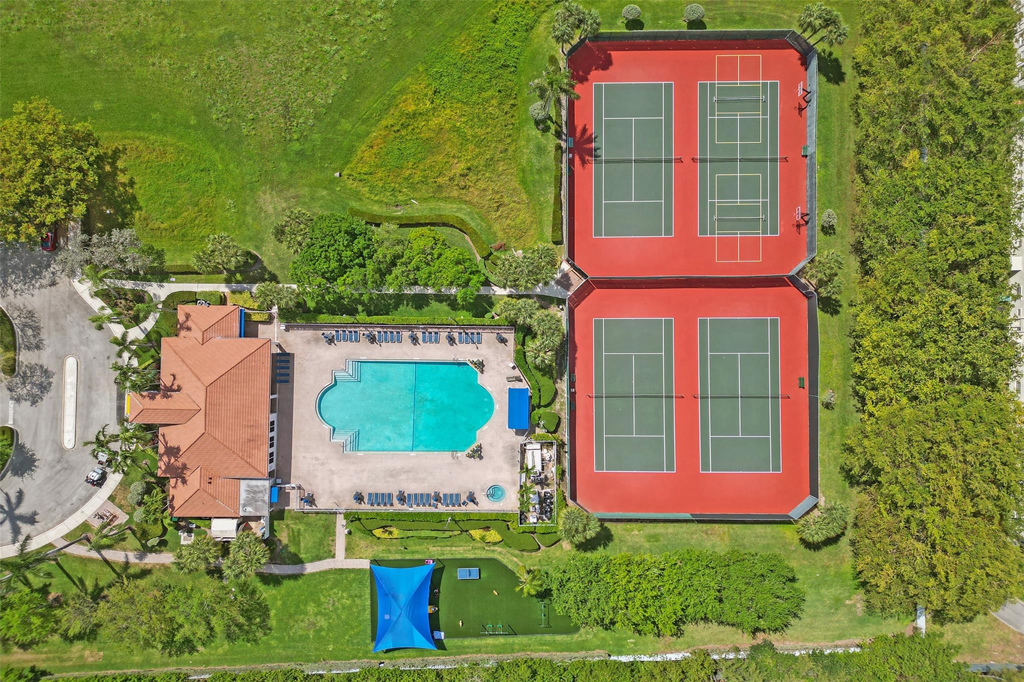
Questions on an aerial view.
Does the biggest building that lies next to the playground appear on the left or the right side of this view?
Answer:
left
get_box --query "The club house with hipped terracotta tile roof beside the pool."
[128,305,279,517]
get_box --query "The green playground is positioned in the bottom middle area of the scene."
[370,558,582,644]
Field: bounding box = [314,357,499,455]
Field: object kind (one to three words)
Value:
swimming pool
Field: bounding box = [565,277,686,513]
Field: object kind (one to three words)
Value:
tennis court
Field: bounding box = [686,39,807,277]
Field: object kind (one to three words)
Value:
tennis court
